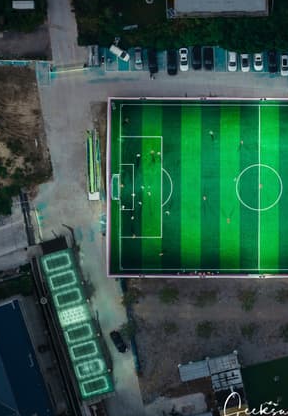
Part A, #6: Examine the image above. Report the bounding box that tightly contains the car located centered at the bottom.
[109,330,127,354]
